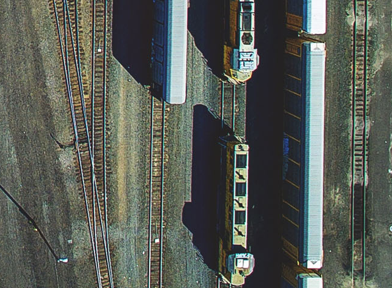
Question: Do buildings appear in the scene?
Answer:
No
